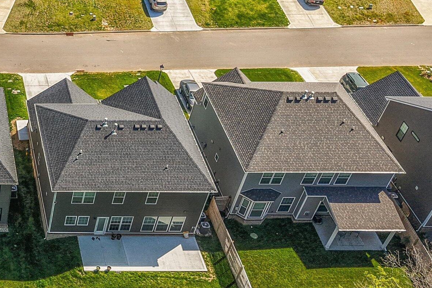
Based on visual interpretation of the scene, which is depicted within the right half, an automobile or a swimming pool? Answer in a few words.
automobile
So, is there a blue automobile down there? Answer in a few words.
No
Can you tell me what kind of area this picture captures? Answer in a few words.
residential area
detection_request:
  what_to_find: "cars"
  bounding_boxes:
[148,0,170,11]
[305,0,326,5]
[178,78,198,102]
[338,66,372,92]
